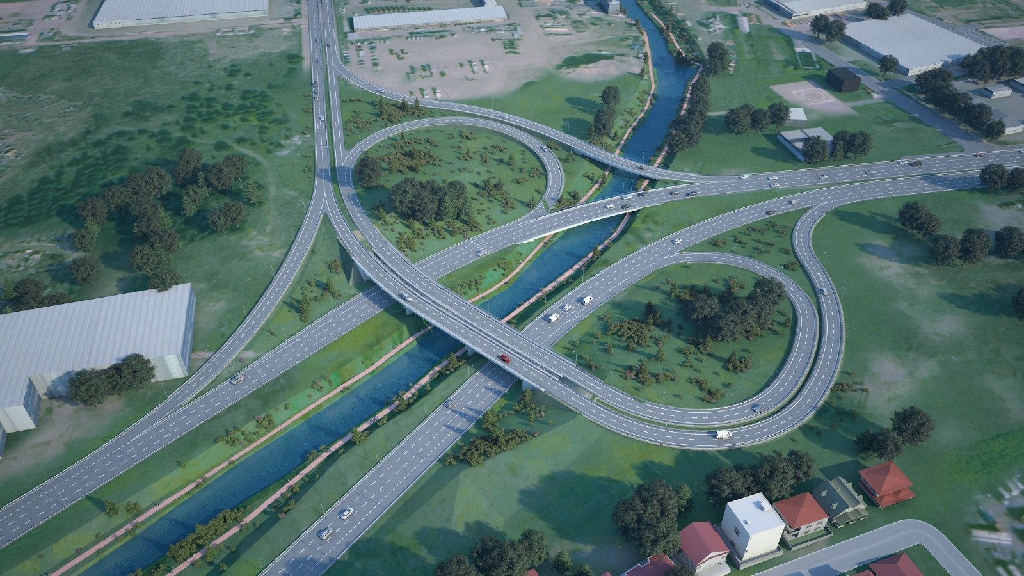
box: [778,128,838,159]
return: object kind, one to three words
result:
building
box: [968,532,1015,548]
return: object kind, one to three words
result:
shed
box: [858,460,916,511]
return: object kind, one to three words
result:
house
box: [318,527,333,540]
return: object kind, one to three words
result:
vehicle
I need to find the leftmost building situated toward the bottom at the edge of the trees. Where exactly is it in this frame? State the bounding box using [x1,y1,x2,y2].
[0,285,195,451]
